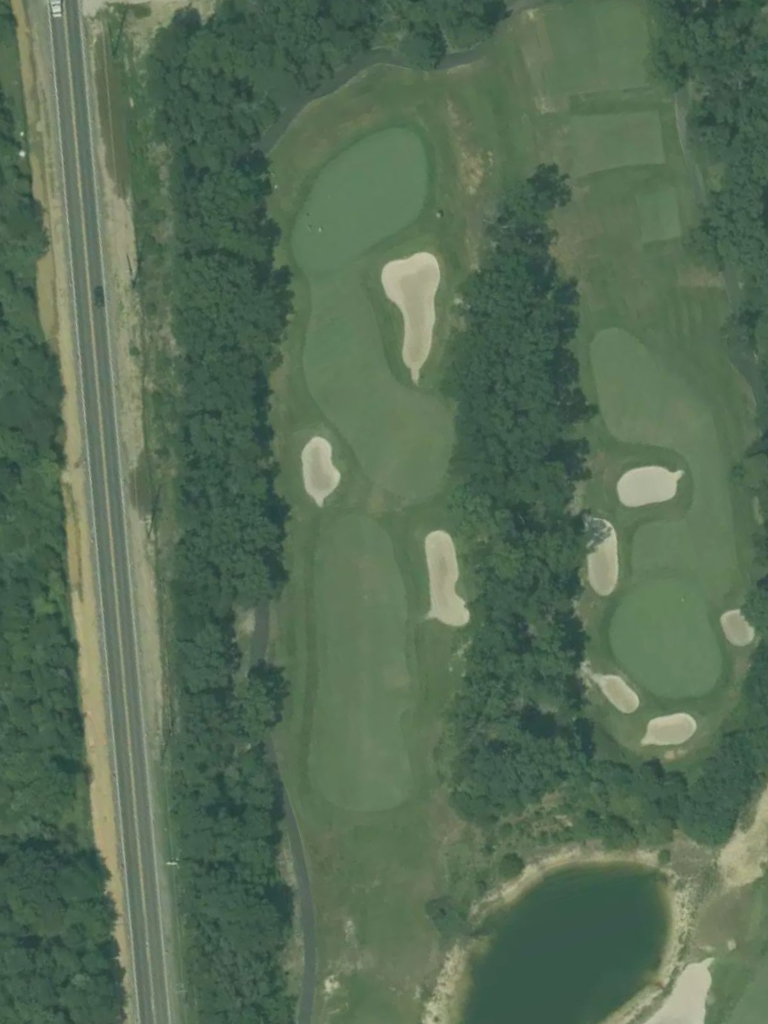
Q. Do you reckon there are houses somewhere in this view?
No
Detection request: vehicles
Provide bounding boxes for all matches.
[94,287,105,309]
[51,0,62,19]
